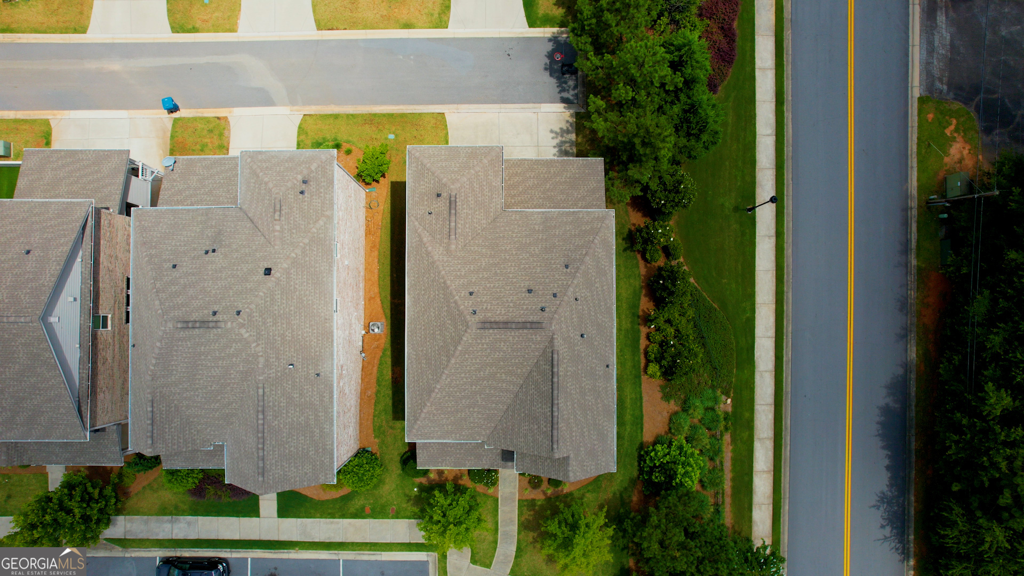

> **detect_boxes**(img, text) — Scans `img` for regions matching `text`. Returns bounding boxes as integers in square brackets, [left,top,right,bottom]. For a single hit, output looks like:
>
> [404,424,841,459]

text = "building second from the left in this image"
[126,149,370,498]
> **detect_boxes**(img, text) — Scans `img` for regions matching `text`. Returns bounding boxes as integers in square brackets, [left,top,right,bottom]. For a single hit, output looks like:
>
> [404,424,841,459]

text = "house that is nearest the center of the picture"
[405,143,618,484]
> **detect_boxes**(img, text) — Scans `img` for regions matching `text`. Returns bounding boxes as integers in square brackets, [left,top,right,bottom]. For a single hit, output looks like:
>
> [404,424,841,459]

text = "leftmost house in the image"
[0,148,153,471]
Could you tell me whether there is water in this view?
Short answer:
No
